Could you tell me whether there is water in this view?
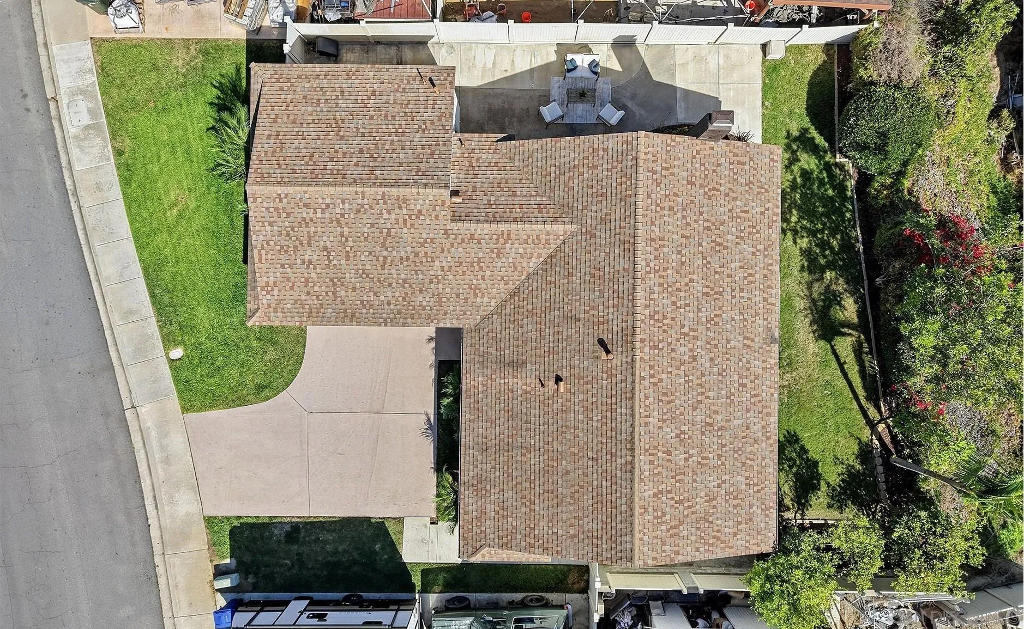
No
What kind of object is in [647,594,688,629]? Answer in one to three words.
shed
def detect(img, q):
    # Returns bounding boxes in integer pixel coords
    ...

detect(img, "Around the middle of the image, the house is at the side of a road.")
[246,61,781,567]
